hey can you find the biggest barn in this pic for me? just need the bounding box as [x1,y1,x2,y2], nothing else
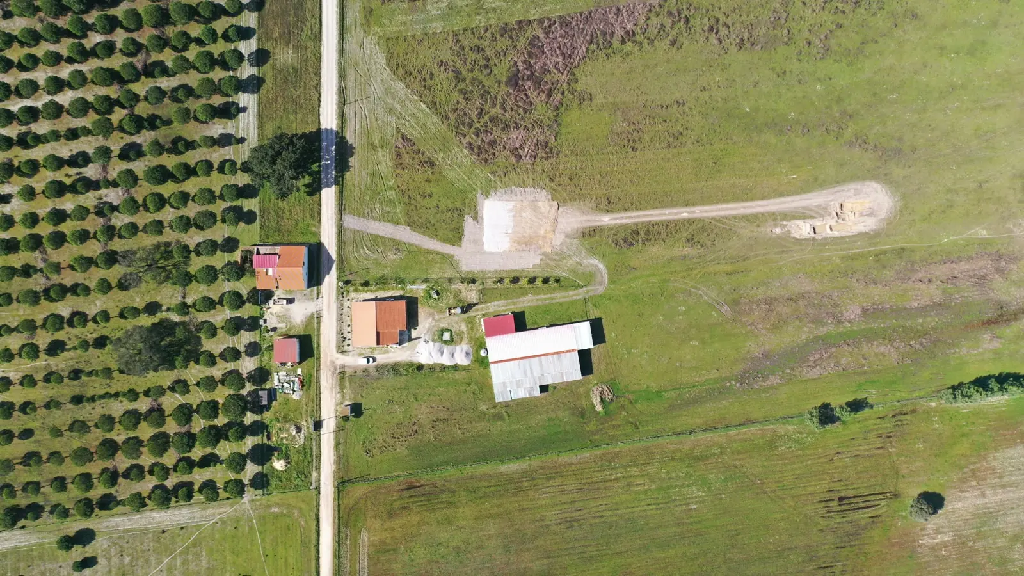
[480,313,593,402]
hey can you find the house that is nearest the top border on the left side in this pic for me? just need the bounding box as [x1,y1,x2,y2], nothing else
[253,246,308,289]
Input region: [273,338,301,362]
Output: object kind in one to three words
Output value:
shed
